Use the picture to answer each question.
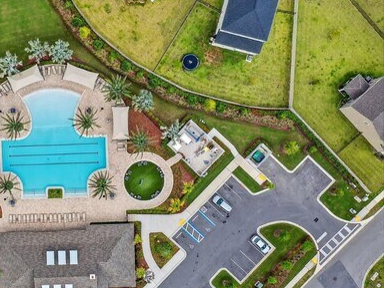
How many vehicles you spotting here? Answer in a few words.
two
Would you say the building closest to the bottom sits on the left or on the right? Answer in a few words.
left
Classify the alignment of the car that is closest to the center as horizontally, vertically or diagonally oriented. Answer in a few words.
diagonally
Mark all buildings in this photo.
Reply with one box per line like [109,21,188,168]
[334,70,384,153]
[209,0,279,55]
[0,224,136,288]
